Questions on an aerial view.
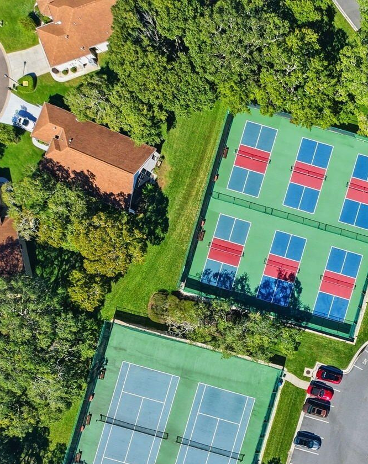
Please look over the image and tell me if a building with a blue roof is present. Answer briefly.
No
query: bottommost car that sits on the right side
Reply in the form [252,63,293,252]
[294,434,322,450]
